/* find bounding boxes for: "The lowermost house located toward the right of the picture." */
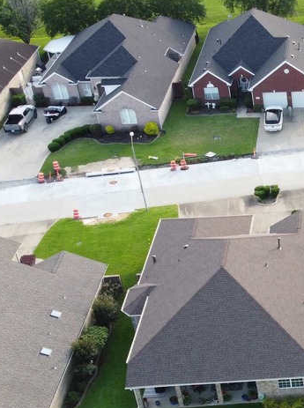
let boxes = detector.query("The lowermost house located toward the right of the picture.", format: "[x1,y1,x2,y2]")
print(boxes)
[113,215,304,408]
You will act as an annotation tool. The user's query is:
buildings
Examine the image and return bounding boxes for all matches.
[0,22,46,118]
[0,235,110,408]
[186,12,304,114]
[35,11,196,135]
[113,215,304,408]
